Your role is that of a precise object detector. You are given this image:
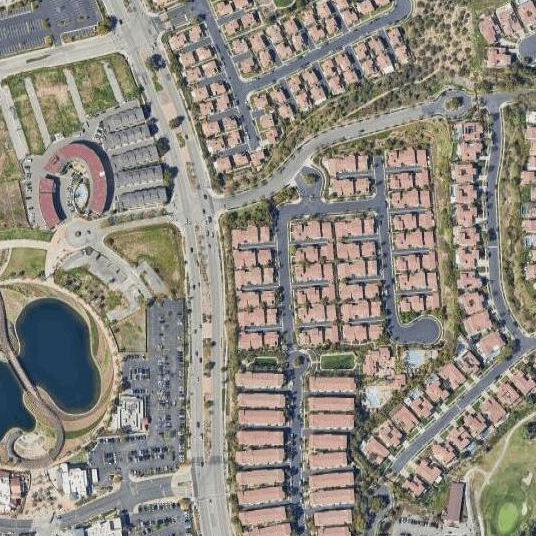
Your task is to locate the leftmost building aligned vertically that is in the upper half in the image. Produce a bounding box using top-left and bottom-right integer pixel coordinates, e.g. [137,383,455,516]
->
[38,175,60,229]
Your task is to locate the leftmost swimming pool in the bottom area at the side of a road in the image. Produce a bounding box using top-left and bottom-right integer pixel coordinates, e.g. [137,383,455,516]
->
[364,386,392,408]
